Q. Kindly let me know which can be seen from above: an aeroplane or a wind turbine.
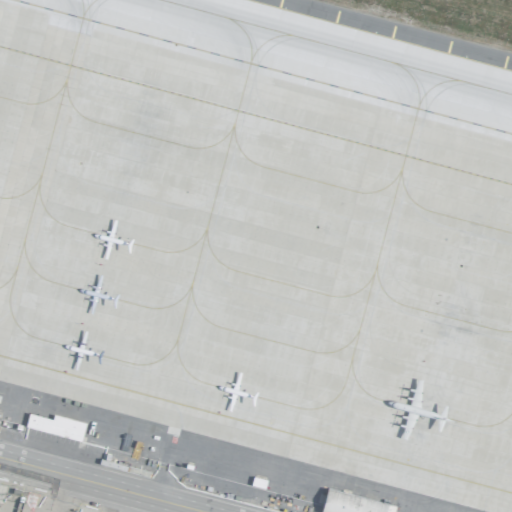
aeroplane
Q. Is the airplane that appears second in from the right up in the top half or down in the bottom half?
bottom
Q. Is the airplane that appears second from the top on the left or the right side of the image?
left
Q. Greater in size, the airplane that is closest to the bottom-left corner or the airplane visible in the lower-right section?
the airplane visible in the lower-right section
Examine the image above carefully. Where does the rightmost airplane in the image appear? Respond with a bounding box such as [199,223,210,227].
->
[388,380,456,440]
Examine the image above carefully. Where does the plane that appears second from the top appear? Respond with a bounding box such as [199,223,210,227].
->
[81,276,118,314]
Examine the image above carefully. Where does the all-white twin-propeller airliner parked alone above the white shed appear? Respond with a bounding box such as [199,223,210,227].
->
[220,374,258,413]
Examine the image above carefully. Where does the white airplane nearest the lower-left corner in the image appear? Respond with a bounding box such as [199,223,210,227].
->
[66,332,104,371]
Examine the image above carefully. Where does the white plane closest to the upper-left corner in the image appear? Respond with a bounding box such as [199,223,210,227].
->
[95,220,133,260]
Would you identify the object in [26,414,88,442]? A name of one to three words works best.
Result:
building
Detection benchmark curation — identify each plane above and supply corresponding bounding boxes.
[388,380,456,440]
[220,374,258,413]
[81,276,118,314]
[66,332,104,371]
[95,220,133,260]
